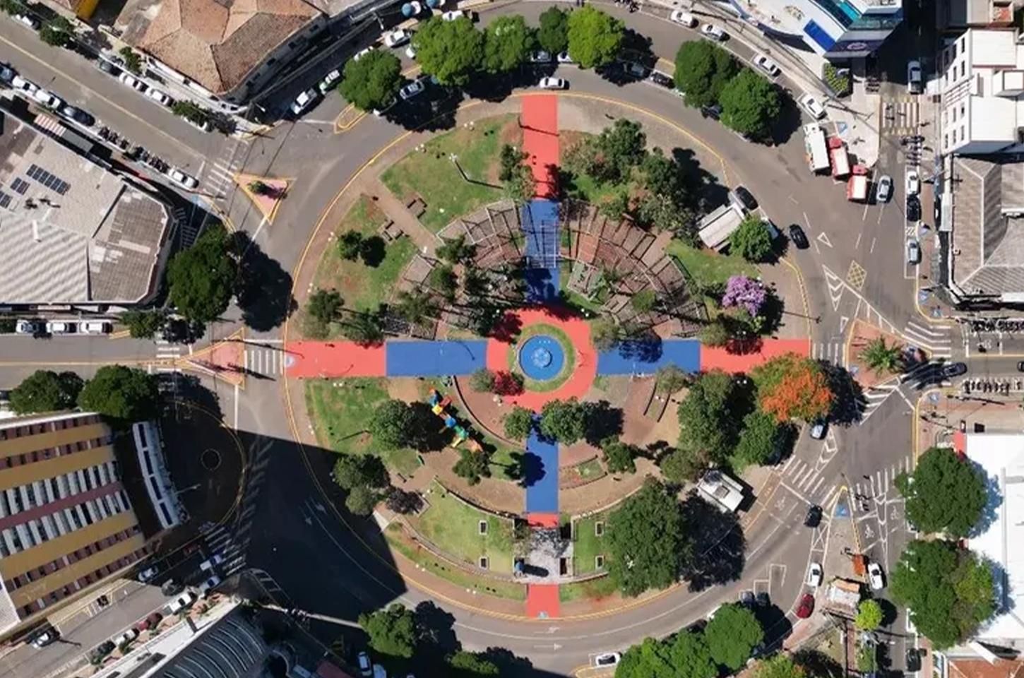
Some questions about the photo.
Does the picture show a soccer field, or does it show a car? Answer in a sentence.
There is a car in the scene.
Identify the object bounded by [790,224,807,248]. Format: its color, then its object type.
black car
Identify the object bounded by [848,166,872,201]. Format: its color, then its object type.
white truck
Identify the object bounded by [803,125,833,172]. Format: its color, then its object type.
white truck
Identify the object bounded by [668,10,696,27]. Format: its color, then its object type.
white car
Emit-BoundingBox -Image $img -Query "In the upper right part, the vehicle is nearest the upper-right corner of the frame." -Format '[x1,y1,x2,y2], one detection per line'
[907,62,922,92]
